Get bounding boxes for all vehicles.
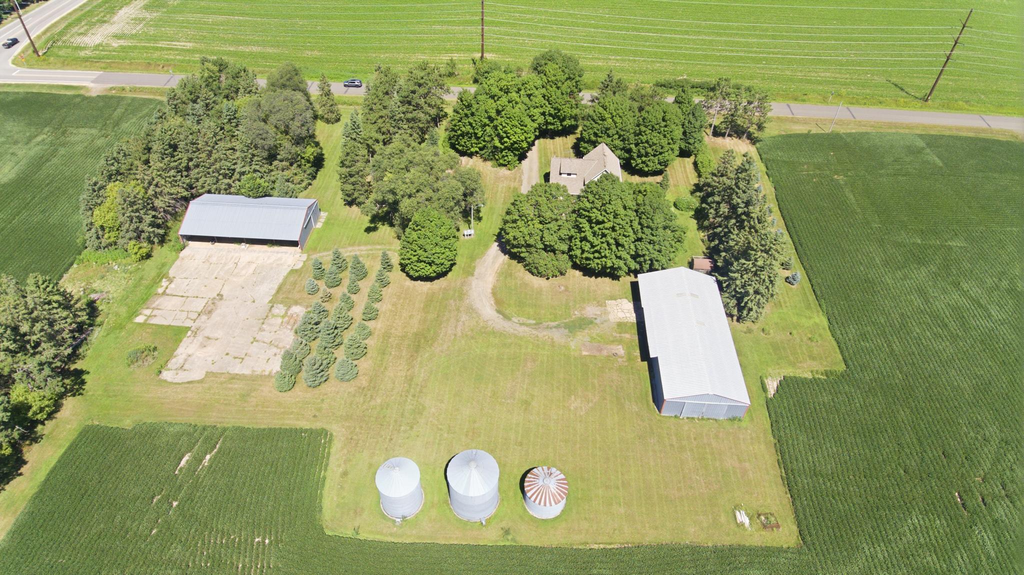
[343,80,362,89]
[0,38,18,48]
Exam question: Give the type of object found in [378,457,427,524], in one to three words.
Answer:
silo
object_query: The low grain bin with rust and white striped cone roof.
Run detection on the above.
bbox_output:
[522,467,568,519]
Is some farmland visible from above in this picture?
Yes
